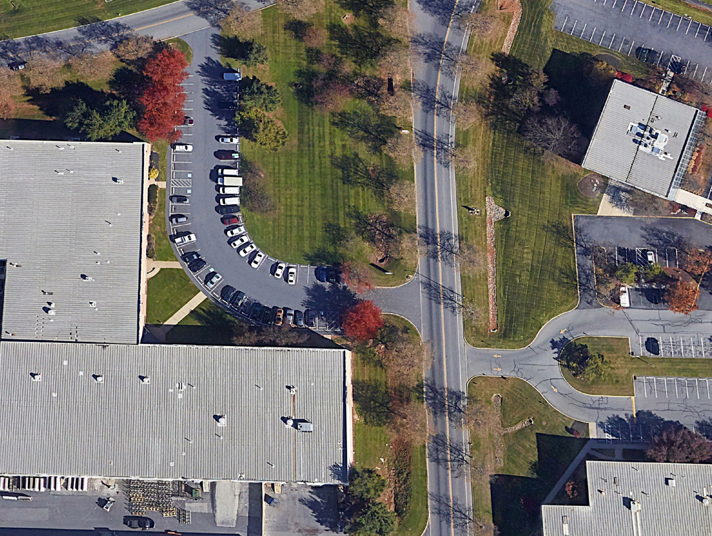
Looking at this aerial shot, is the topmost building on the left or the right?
right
